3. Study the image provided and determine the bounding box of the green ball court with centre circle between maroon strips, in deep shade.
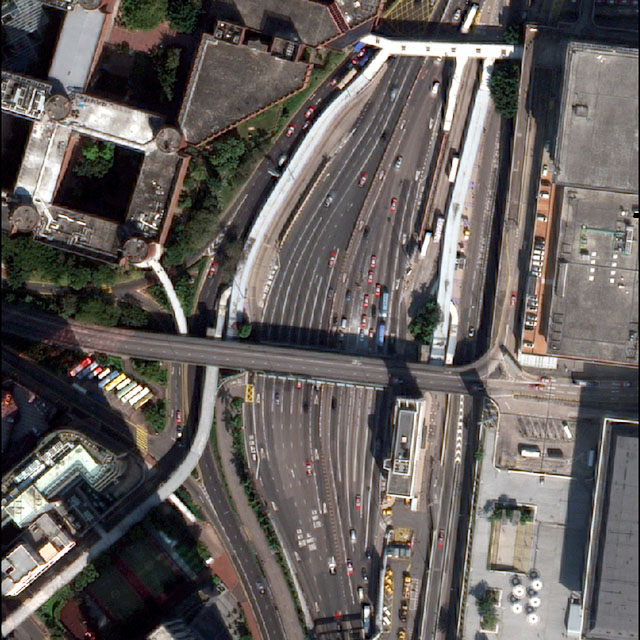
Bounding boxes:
[79,552,160,640]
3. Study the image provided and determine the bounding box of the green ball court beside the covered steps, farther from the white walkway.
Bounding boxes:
[121,518,191,597]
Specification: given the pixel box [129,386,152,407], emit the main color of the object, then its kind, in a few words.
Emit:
white bus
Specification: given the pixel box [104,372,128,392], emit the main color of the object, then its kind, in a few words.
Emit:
yellow vehicle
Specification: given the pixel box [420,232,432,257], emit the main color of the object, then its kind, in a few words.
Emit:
white vehicle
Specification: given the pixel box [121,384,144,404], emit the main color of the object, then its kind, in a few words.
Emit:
white bus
